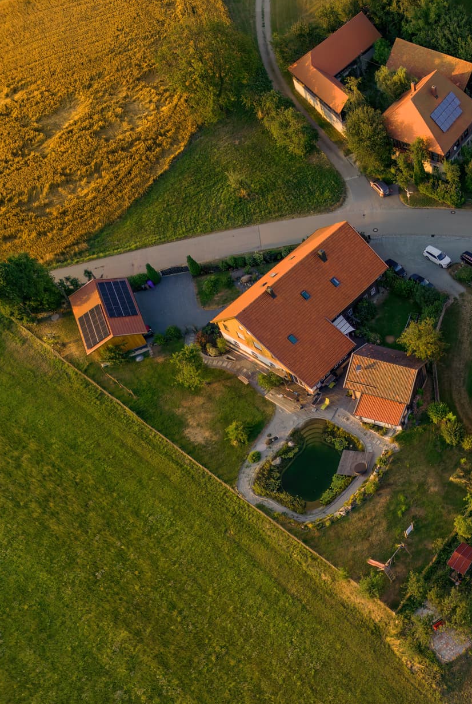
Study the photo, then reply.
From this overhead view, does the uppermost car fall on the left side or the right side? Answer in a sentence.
The uppermost car is on the right side of the image.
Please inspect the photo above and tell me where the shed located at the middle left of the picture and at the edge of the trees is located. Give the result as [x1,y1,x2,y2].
[69,277,150,364]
